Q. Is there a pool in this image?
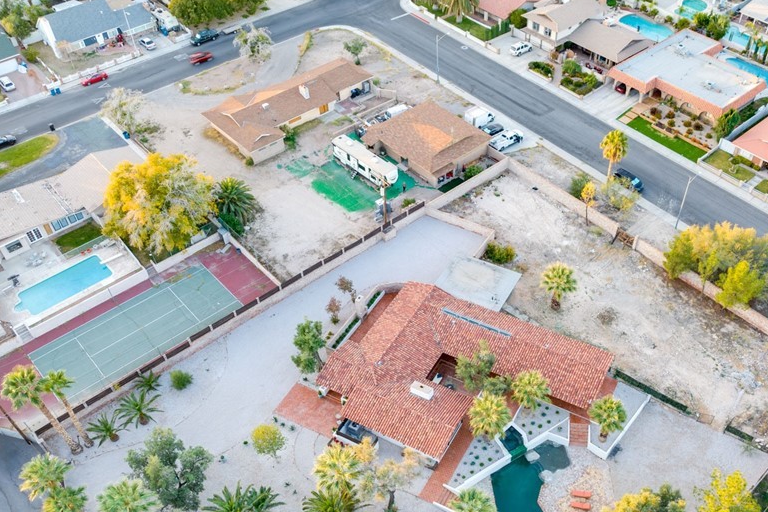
Yes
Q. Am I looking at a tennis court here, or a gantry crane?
tennis court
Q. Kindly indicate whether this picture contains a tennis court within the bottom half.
Yes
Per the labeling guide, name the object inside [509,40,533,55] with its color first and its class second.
white car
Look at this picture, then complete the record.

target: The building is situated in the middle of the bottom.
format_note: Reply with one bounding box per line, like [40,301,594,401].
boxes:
[316,282,610,469]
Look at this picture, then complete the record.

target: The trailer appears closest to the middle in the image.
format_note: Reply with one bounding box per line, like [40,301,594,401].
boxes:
[332,136,399,187]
